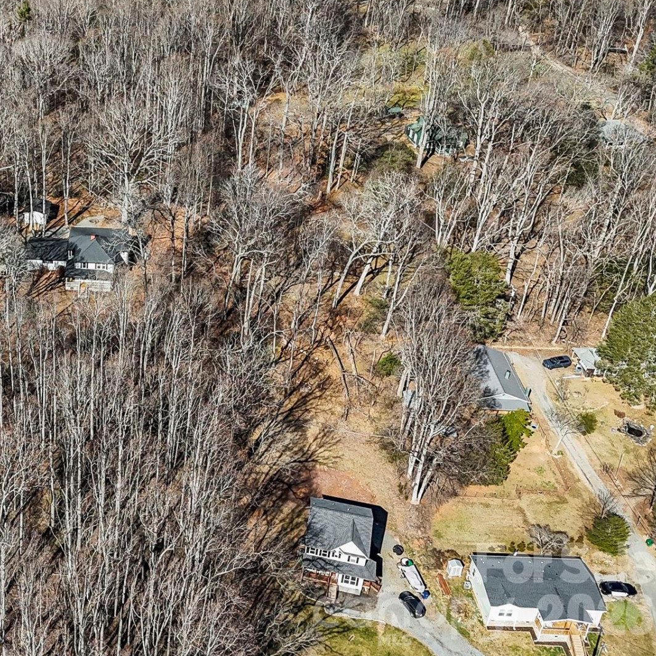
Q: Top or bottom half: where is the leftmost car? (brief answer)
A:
bottom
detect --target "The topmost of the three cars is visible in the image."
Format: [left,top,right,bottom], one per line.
[543,353,573,367]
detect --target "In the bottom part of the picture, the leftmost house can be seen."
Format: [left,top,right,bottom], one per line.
[293,500,375,606]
